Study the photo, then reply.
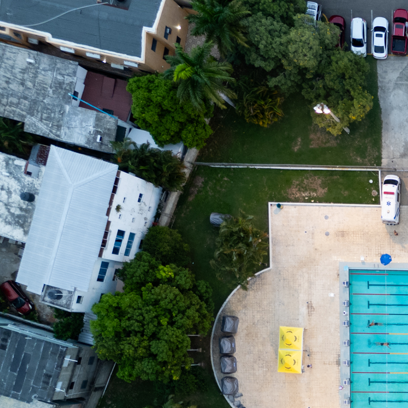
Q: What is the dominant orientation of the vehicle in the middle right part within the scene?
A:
from top to bottom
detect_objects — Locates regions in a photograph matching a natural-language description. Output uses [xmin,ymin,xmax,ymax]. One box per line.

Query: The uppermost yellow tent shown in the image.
[279,326,308,350]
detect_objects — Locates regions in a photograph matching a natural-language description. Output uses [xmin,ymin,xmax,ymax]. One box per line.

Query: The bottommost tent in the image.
[278,350,307,373]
